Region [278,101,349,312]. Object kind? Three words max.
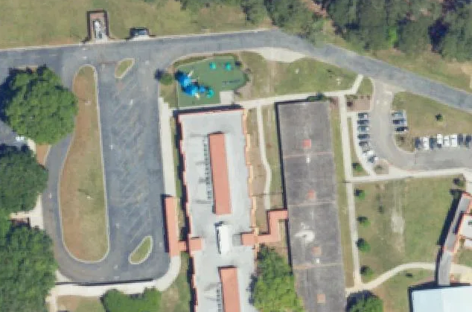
building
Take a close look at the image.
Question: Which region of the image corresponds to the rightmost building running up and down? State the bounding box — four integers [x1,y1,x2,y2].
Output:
[443,192,472,249]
